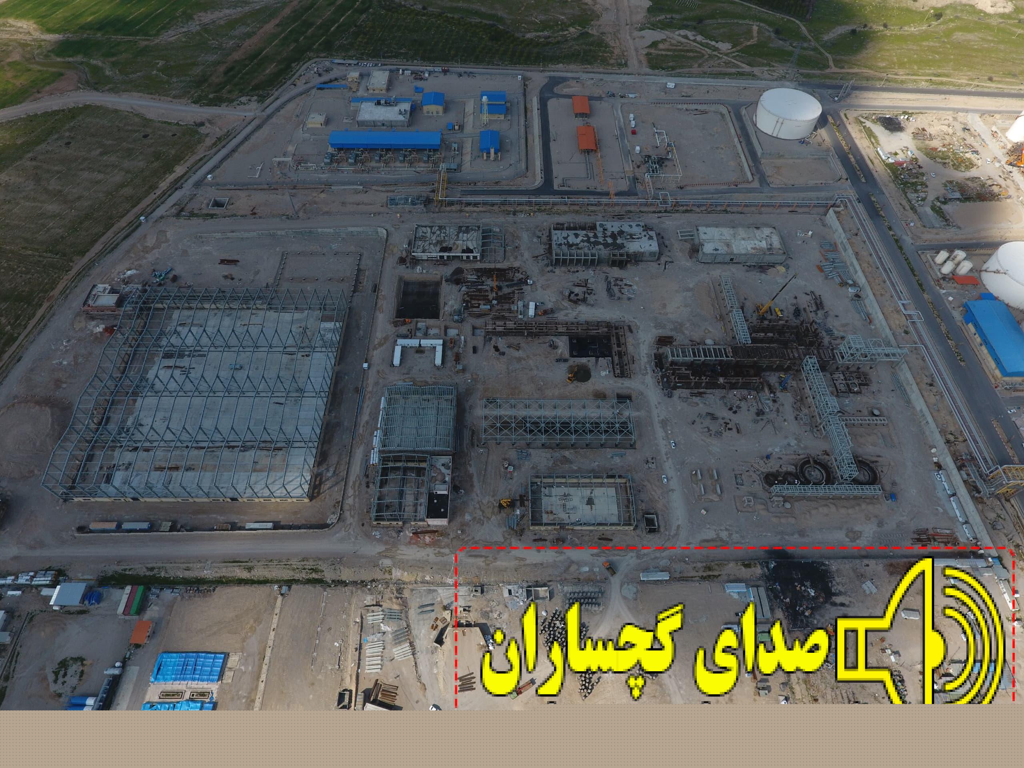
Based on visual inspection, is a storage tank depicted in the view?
Yes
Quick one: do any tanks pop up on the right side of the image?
Yes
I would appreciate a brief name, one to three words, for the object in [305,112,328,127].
building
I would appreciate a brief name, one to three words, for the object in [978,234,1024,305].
storage tank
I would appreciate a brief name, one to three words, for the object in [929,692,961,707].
shed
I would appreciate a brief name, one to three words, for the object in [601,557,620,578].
vehicle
